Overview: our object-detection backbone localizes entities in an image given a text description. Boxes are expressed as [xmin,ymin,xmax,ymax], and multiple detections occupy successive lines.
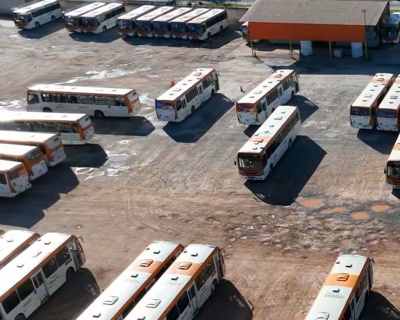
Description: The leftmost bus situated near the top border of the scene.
[14,0,63,31]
